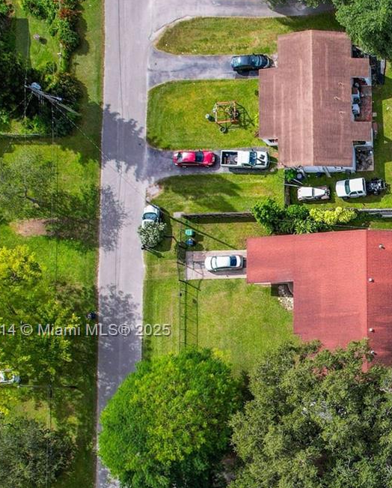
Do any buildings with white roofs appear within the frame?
No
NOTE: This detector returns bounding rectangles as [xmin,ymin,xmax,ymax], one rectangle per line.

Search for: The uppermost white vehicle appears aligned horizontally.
[220,147,270,170]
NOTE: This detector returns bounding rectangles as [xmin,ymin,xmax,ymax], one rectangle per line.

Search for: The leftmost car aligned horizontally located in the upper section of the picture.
[172,149,216,167]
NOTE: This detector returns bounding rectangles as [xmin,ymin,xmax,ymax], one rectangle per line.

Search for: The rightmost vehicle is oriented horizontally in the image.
[335,178,388,200]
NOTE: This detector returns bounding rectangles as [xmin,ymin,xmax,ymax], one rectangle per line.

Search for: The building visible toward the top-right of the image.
[259,30,373,176]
